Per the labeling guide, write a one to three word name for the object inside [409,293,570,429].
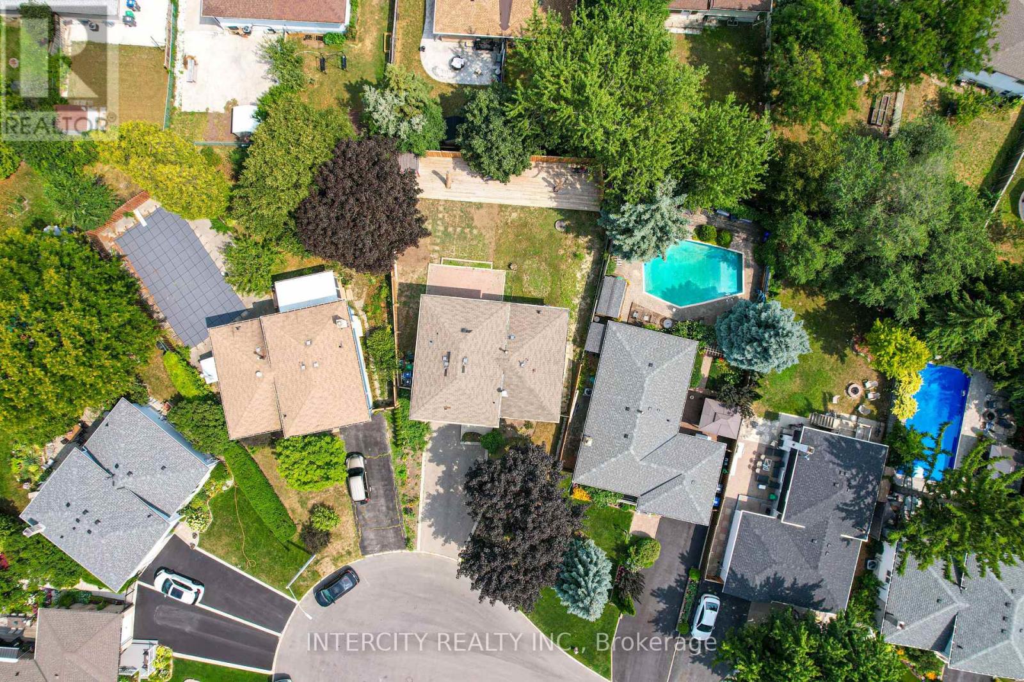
house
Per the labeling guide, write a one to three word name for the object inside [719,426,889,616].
house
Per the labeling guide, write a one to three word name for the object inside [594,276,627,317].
shed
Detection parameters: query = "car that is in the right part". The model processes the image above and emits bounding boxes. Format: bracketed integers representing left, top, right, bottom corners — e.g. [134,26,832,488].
[690,594,718,640]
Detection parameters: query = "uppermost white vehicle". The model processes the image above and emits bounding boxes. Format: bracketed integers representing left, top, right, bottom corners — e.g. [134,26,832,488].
[344,451,374,505]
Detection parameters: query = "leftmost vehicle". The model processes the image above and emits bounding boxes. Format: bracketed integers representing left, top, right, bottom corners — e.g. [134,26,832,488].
[155,568,207,605]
